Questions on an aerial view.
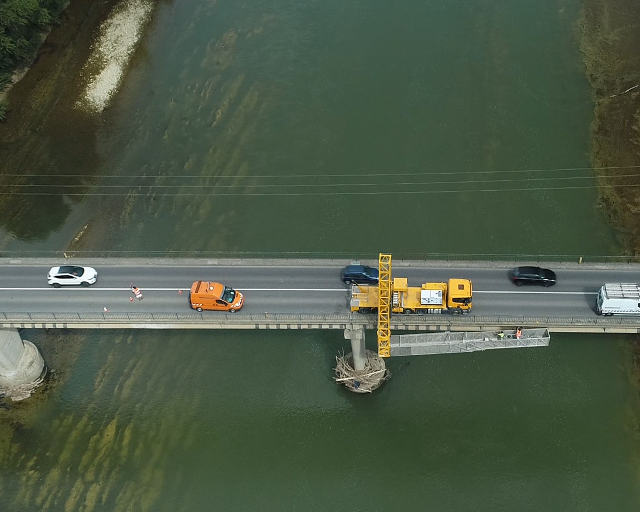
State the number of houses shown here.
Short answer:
0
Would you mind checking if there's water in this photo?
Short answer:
Yes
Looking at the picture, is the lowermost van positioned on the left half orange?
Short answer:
Yes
